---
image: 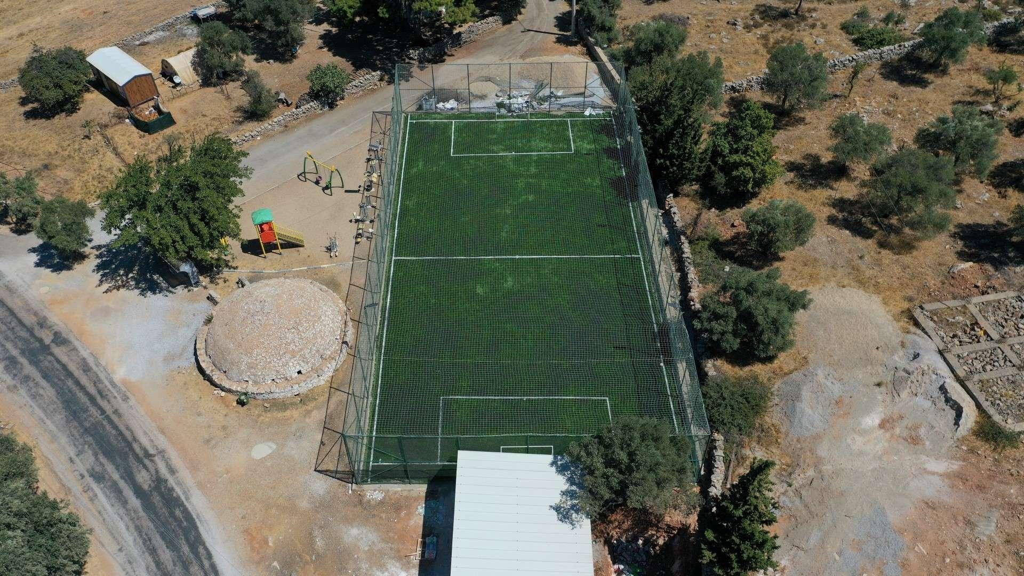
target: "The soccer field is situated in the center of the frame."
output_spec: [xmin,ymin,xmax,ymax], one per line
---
[353,109,709,493]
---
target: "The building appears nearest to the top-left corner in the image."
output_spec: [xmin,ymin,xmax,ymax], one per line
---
[88,49,161,110]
